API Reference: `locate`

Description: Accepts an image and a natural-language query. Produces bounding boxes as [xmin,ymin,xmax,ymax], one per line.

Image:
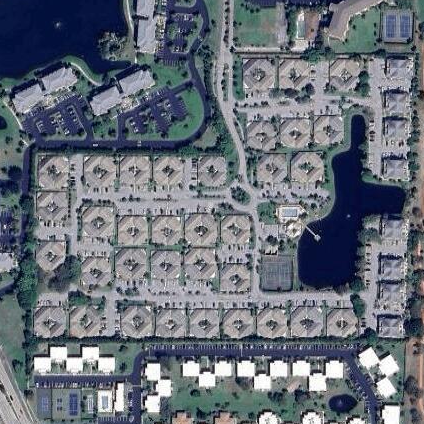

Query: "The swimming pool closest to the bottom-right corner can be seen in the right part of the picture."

[278,205,300,221]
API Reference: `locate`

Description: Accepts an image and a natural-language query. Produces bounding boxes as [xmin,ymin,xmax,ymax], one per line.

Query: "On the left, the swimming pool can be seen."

[98,390,112,412]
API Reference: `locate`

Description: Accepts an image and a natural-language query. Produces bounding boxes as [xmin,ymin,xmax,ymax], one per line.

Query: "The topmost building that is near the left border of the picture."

[14,65,78,112]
